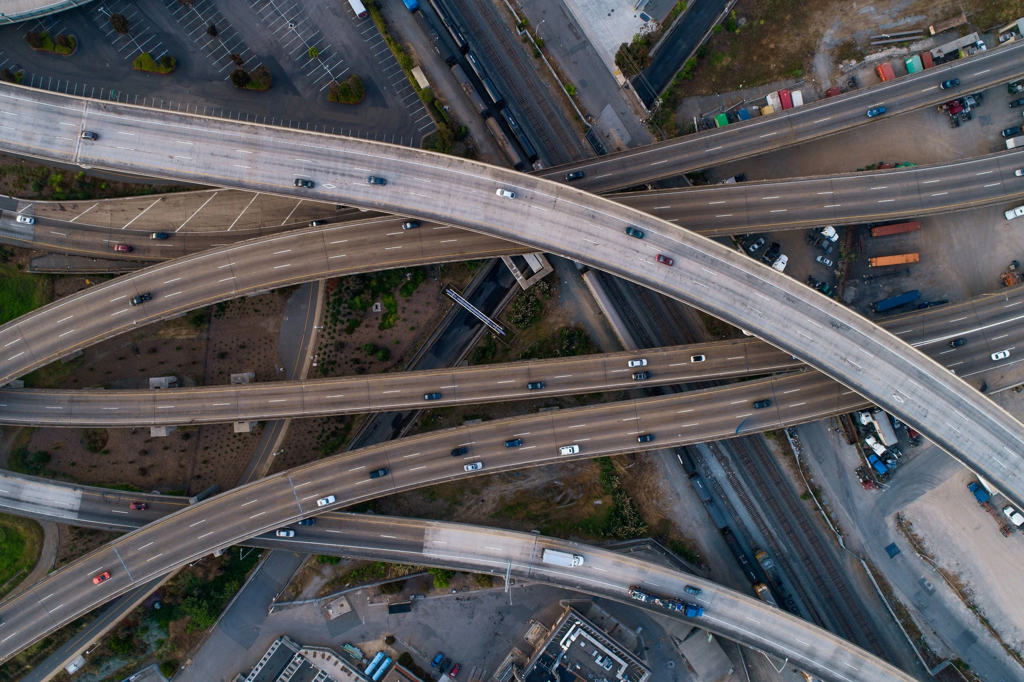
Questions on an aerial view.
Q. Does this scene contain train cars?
Yes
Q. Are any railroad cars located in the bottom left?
No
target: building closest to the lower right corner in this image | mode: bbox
[674,623,734,680]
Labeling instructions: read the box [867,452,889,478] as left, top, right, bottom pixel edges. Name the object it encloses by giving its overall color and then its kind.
blue truck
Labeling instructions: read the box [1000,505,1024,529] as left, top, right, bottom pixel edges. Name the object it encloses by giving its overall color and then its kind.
white truck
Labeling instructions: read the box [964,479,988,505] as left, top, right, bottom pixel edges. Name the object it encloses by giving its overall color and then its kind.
blue truck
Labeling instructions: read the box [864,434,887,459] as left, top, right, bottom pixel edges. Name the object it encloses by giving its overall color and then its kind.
white truck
